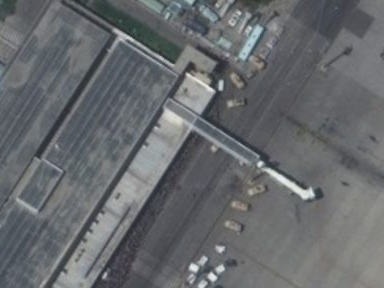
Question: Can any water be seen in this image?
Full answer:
No, the picture contains no water.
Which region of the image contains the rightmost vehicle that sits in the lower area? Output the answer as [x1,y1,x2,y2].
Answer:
[248,184,268,196]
